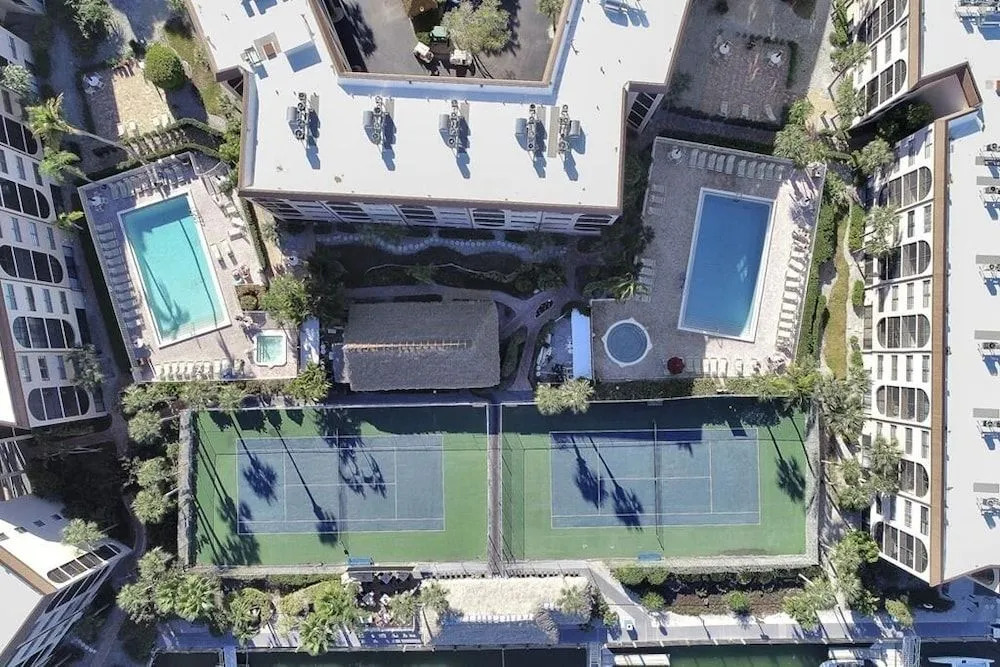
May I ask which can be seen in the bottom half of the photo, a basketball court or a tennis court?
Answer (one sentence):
Looking in the bottom half of the photo, you will find a tennis court.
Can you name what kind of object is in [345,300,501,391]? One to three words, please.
building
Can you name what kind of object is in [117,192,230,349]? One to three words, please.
swimming pool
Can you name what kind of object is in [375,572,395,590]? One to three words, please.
umbrella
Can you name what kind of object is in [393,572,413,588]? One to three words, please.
umbrella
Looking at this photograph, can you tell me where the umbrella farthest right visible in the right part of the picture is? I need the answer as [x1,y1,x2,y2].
[666,356,684,374]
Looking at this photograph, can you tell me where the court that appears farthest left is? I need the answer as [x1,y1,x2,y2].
[191,404,488,567]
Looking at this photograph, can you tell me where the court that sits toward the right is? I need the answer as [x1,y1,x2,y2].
[502,397,814,562]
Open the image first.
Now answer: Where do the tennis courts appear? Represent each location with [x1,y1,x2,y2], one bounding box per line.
[191,404,488,567]
[502,397,814,562]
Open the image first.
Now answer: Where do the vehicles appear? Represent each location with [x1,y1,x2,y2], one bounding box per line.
[451,52,474,68]
[431,26,453,44]
[415,42,438,66]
